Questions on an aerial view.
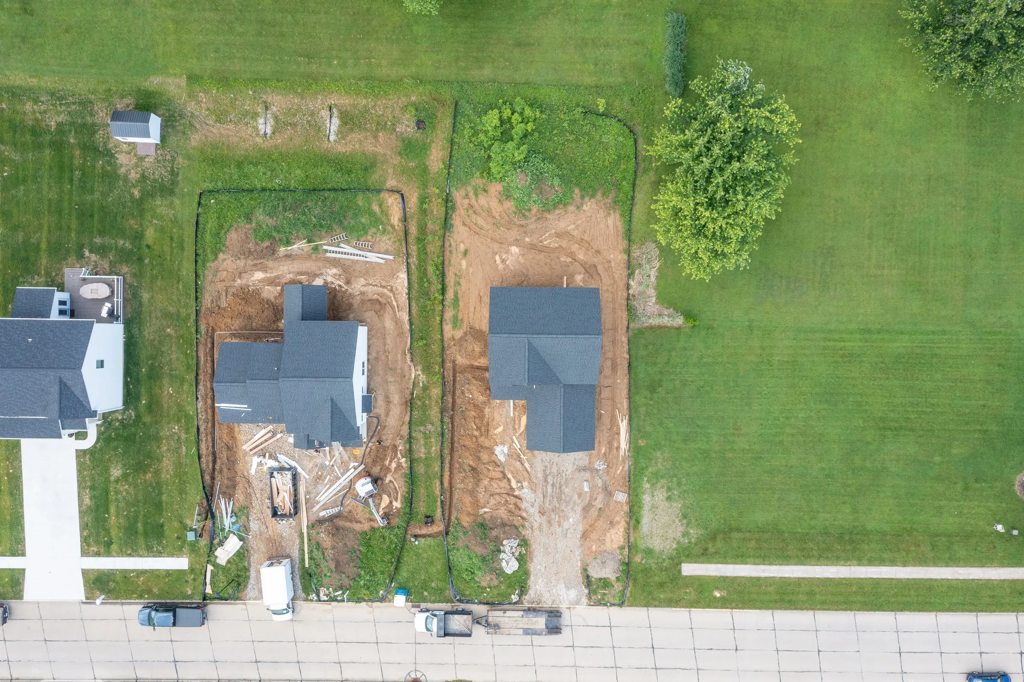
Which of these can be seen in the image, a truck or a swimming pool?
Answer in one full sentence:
This aerial view contains a truck.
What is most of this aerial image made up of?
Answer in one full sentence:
For the most part, this view shows grass.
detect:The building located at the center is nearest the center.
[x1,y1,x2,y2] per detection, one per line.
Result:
[488,287,604,453]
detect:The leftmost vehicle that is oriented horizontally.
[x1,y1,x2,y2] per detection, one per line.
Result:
[139,599,210,630]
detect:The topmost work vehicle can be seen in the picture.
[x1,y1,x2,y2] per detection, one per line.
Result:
[352,471,389,526]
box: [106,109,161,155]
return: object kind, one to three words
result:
shed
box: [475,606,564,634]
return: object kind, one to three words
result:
trailer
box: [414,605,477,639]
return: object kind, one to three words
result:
truck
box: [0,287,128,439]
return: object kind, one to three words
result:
house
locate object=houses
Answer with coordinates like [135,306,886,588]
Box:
[488,287,604,453]
[214,284,374,450]
[0,287,128,439]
